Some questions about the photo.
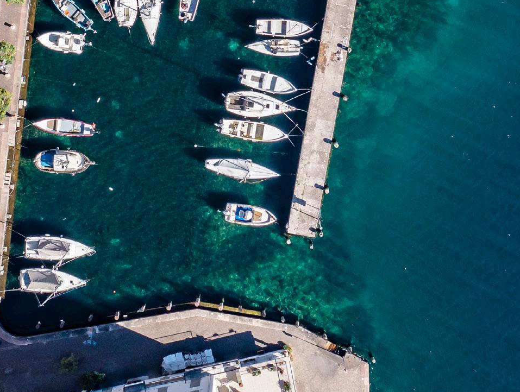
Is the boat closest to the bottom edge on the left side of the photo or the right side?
left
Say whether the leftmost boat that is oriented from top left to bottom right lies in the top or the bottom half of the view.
top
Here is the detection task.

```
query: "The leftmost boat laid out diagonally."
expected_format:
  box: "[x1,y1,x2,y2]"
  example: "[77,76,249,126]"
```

[53,0,95,31]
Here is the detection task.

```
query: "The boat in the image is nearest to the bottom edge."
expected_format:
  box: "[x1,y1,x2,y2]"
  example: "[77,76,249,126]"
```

[4,266,86,302]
